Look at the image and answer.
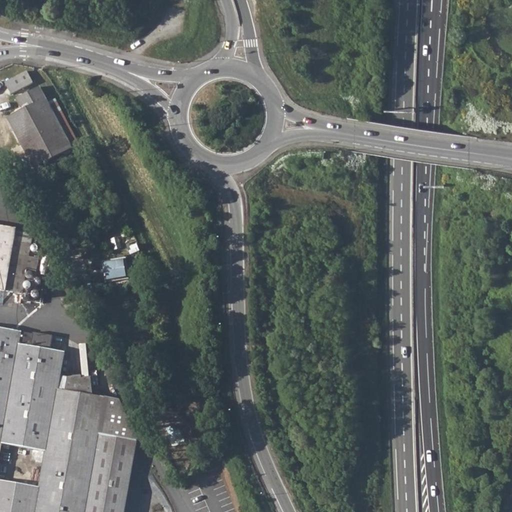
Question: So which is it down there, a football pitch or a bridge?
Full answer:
It is a bridge that can be seen here.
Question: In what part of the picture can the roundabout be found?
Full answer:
The roundabout sits in the top section of the image.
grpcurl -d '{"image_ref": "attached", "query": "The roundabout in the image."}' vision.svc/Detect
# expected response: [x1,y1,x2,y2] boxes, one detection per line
[170,58,286,174]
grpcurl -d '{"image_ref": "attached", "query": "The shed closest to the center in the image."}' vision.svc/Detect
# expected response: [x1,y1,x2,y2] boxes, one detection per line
[104,258,126,280]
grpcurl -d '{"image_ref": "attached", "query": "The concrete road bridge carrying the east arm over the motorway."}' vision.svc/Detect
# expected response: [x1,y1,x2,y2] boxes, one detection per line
[347,118,478,171]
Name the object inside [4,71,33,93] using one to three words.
house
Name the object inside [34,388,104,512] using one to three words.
building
